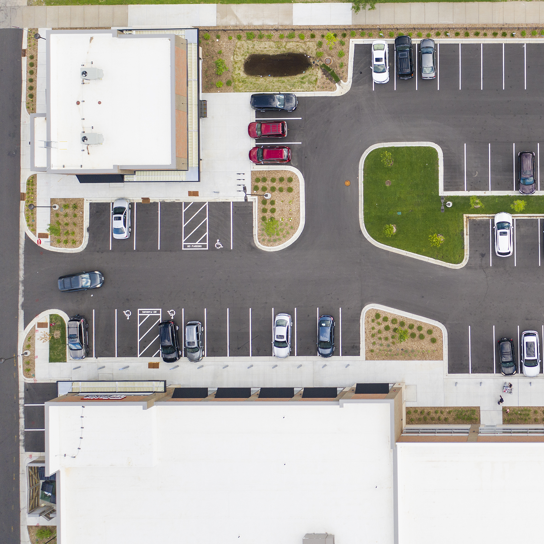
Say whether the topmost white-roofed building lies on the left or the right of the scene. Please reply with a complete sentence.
The topmost white-roofed building appears in the left half of the scene.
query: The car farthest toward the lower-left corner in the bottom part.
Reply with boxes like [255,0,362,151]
[66,320,89,359]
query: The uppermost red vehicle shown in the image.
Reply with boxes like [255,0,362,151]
[248,119,289,139]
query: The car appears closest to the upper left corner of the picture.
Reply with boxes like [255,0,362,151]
[111,198,133,239]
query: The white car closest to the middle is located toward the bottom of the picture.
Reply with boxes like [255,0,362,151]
[271,313,293,358]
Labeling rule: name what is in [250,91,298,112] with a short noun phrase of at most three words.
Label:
car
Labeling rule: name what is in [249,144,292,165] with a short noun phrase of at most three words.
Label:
car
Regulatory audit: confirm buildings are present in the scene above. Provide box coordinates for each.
[30,28,201,183]
[48,380,407,544]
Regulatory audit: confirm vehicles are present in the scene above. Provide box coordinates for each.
[184,321,206,361]
[271,313,293,358]
[394,35,415,80]
[316,315,336,357]
[497,336,517,375]
[370,39,390,84]
[418,39,437,80]
[159,320,182,362]
[250,91,298,112]
[111,198,133,239]
[517,150,537,195]
[248,119,289,139]
[521,330,541,376]
[66,320,89,359]
[57,271,106,294]
[494,212,514,257]
[249,144,292,165]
